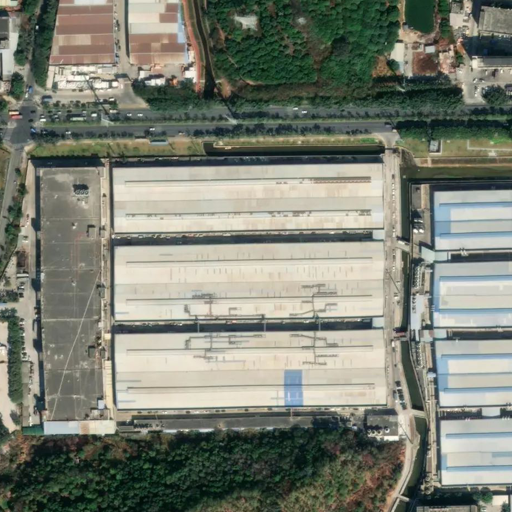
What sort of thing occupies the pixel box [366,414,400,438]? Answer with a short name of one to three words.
house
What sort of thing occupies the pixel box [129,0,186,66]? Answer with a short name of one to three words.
shed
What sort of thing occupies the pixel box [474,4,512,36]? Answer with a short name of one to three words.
building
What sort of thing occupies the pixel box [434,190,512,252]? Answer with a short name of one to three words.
building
